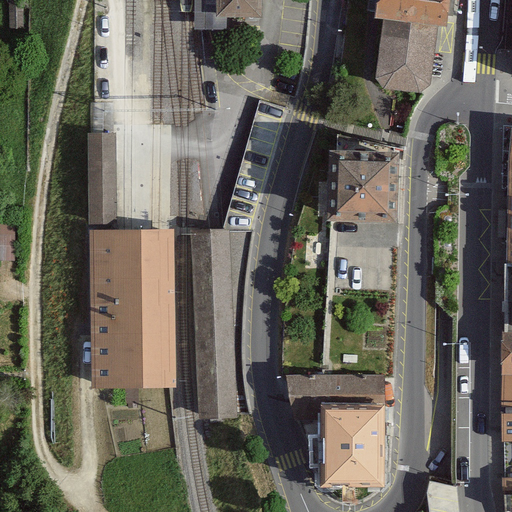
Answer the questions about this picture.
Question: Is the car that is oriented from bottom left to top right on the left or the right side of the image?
right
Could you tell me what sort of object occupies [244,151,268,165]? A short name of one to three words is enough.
car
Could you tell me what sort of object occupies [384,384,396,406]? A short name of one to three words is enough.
vehicle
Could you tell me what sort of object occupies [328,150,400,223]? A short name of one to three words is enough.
house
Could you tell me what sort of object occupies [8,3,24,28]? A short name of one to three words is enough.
shed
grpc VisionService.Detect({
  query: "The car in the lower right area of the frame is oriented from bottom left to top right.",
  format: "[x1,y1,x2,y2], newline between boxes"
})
[426,450,446,471]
